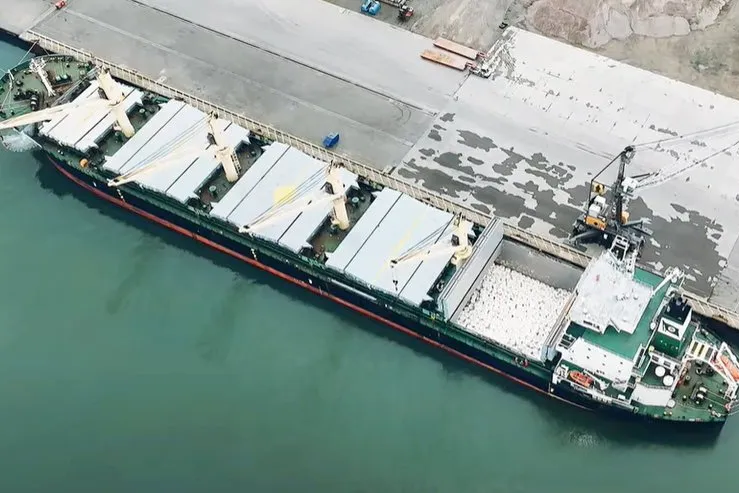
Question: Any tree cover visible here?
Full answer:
No, the picture contains no tree cover.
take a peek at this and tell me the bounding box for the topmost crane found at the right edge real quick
[560,117,739,268]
